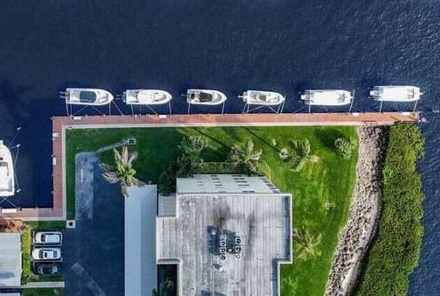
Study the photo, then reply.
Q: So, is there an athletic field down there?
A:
No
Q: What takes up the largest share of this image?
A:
water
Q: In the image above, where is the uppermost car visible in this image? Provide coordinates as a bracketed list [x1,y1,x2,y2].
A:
[34,232,62,246]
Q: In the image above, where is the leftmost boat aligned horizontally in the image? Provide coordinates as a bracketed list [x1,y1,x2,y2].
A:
[57,88,114,106]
